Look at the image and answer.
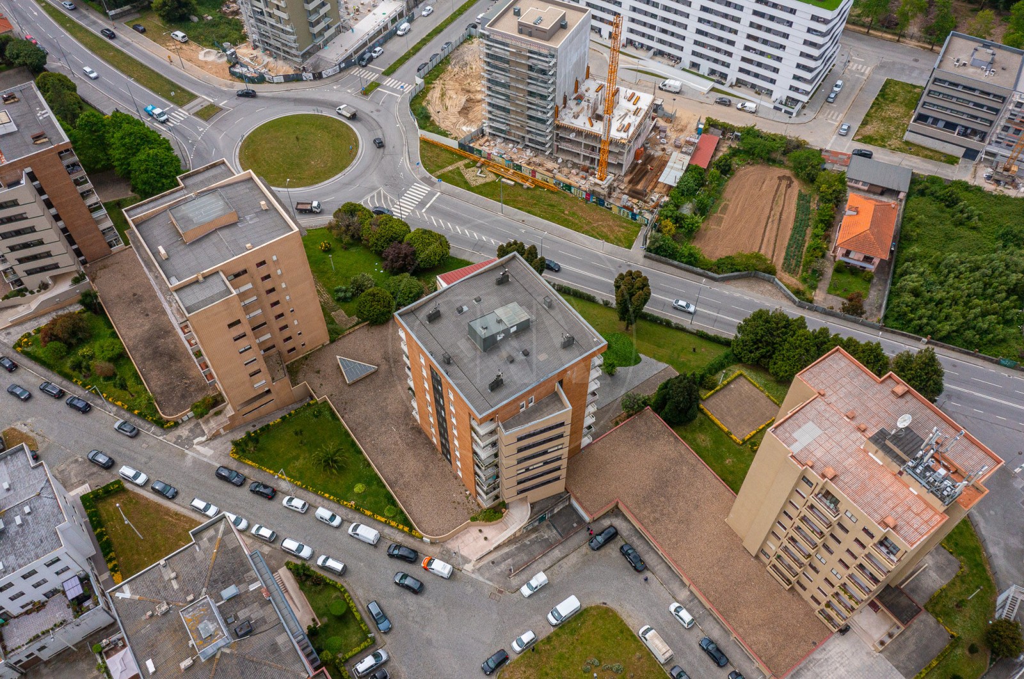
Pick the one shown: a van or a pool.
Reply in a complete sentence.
The image shows a van.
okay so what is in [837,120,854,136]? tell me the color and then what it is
gray car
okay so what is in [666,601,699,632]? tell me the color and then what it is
white car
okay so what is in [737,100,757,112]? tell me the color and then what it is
white vehicle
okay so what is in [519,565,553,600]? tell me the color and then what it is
white truck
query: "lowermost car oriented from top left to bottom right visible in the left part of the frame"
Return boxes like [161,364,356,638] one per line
[363,598,394,635]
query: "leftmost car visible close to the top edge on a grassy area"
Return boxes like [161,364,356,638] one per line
[129,21,148,33]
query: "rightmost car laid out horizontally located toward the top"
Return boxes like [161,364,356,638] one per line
[852,148,874,160]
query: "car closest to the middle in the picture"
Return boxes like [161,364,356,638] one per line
[541,256,564,272]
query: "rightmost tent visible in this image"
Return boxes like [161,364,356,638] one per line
[107,648,142,679]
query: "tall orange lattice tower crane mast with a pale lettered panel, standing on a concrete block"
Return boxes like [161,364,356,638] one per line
[585,13,627,188]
